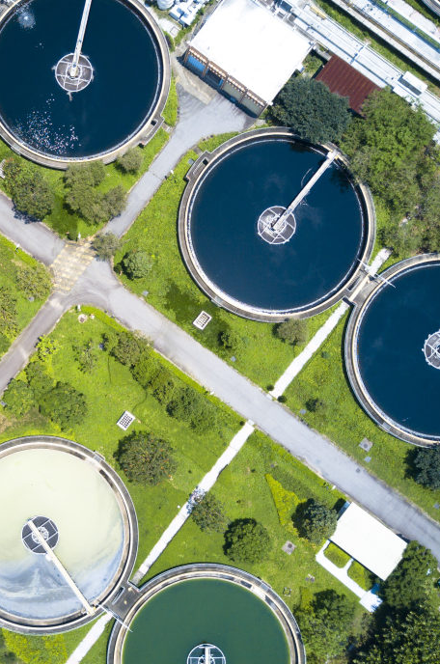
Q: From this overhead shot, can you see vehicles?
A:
No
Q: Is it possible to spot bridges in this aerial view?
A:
Yes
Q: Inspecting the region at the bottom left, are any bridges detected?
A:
Yes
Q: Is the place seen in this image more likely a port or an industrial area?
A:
industrial area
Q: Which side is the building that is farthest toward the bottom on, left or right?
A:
right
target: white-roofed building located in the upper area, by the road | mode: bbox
[183,0,311,114]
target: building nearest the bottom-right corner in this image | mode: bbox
[330,501,406,580]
